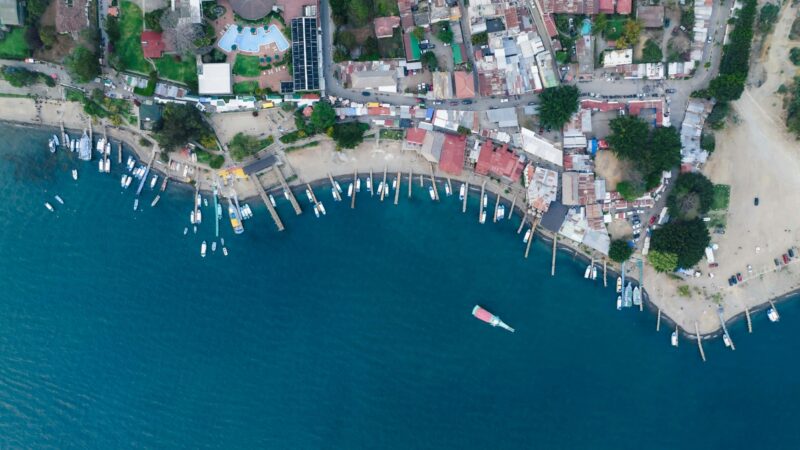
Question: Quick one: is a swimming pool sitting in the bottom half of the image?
No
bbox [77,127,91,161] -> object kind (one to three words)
vessel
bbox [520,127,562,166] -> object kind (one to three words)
house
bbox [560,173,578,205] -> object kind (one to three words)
building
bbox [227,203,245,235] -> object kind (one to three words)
vessel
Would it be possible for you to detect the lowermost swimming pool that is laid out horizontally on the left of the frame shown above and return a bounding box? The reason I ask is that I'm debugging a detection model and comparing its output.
[219,23,288,52]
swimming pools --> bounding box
[580,21,592,35]
[219,23,288,52]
